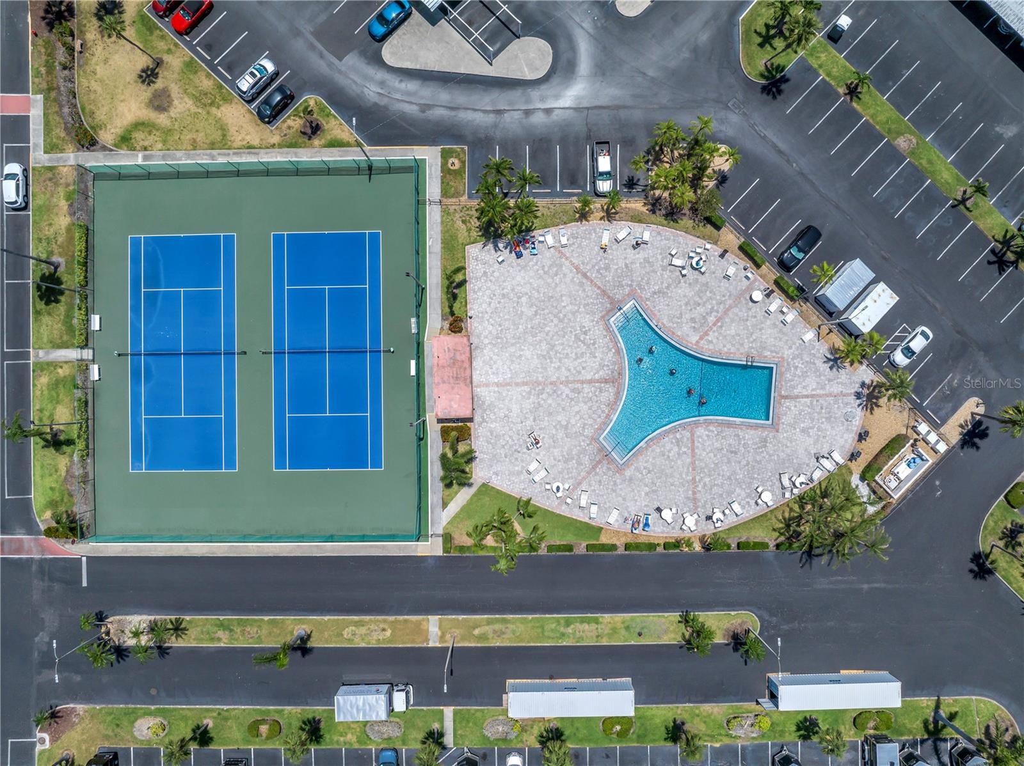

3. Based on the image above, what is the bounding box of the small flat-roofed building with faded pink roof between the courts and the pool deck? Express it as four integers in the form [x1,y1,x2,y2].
[433,335,474,418]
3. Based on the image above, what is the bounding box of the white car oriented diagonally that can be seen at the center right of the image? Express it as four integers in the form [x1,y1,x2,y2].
[888,323,934,368]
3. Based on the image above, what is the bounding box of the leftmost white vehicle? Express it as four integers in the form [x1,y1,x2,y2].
[1,162,28,208]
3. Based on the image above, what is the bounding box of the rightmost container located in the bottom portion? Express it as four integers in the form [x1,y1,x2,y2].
[761,672,901,711]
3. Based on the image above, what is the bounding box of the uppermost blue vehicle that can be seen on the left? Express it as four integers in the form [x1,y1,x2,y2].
[368,0,414,42]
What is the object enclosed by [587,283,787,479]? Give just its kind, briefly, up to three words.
swimming pool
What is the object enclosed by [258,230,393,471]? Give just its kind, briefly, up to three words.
tennis court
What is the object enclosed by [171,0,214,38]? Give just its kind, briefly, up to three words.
car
